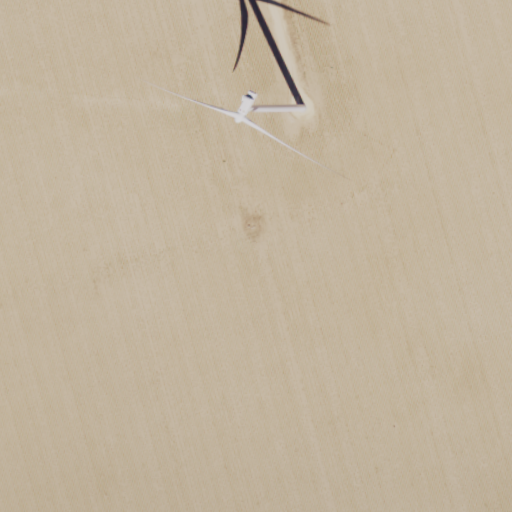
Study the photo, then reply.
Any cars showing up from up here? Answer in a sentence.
No, the picture doesn't show any car.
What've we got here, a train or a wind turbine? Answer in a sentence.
It is a wind turbine that can be seen here.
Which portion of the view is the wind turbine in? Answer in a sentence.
The wind turbine appears toward the top of the photo.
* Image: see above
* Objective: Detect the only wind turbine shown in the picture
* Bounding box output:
[142,81,343,178]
